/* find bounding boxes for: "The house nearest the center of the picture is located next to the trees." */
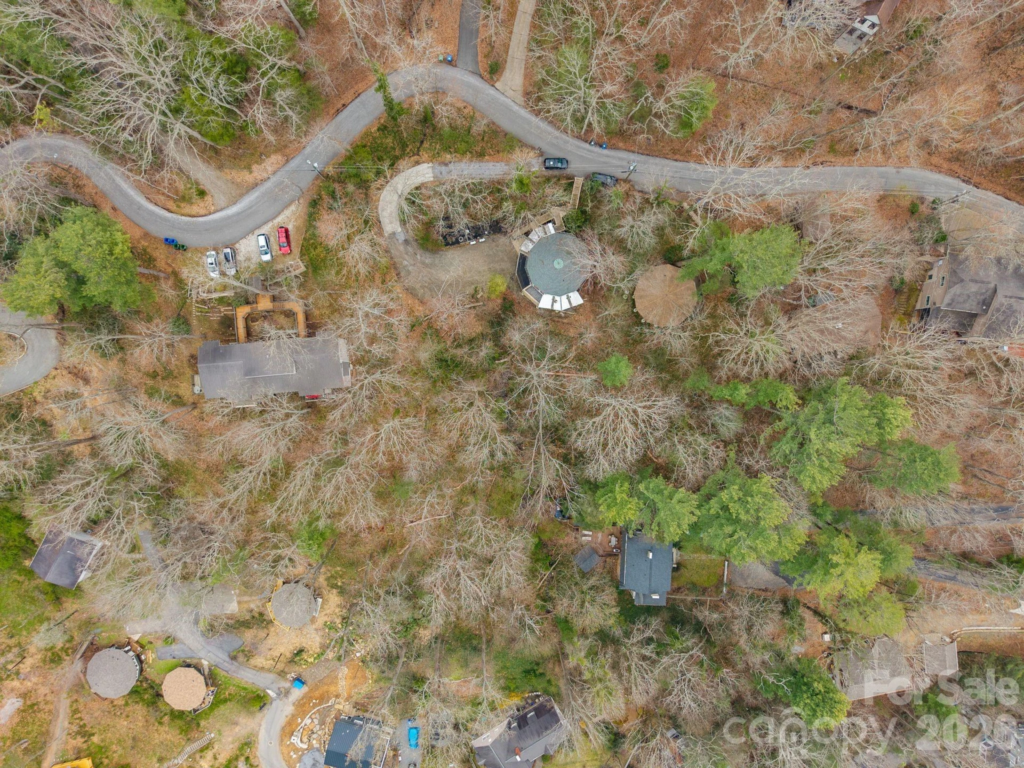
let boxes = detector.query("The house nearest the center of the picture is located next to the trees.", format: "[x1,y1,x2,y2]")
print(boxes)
[516,222,591,314]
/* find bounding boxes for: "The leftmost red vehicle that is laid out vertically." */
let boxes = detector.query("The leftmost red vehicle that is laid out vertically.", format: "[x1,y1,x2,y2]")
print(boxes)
[275,224,290,254]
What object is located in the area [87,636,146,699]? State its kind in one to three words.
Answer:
house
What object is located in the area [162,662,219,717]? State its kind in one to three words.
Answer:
house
